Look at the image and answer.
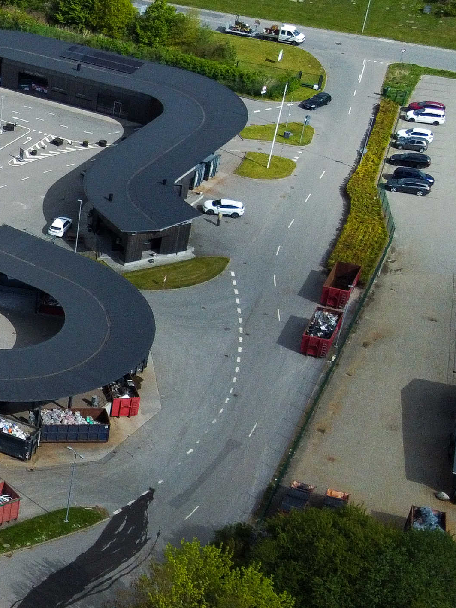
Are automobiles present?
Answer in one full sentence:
Yes, this view includes an automobile.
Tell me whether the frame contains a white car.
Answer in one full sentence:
Yes, there's a white car down there.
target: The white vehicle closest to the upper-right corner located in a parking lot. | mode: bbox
[407,109,442,125]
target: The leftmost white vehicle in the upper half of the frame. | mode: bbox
[48,216,70,237]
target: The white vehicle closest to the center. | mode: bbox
[205,199,242,219]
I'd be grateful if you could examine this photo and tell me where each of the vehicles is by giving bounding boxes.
[411,99,444,112]
[205,199,242,219]
[398,128,433,145]
[388,179,427,196]
[48,216,70,237]
[407,109,442,125]
[261,26,302,45]
[396,170,435,186]
[398,137,426,153]
[304,92,332,110]
[393,154,430,171]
